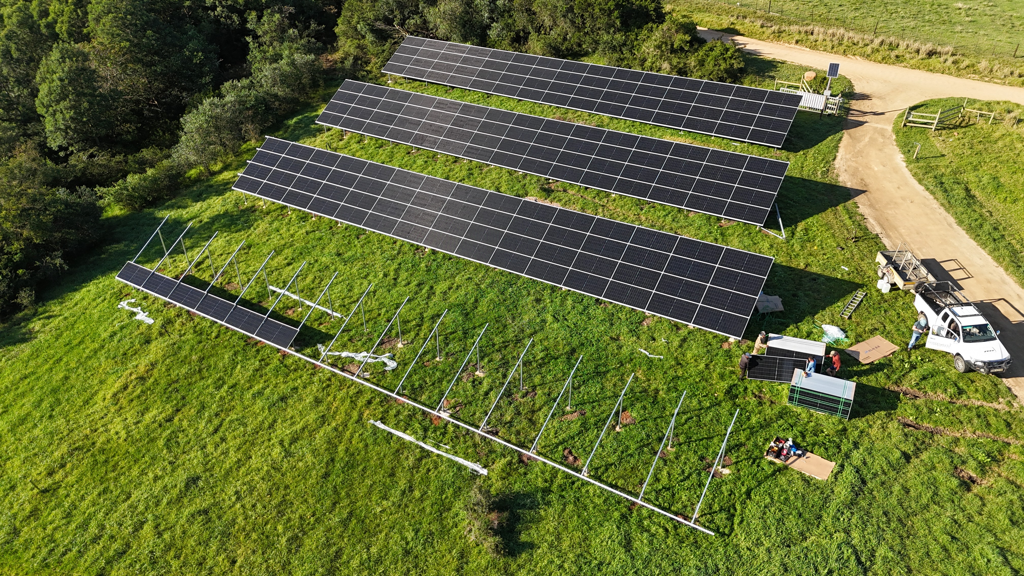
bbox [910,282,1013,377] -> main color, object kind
white truck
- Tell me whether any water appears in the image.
No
